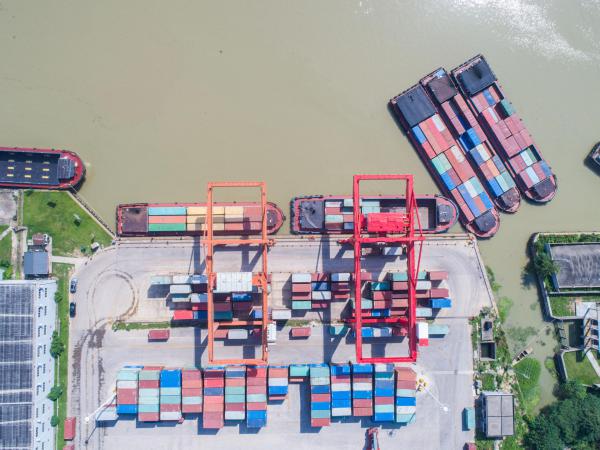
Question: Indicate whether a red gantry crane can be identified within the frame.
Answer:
Yes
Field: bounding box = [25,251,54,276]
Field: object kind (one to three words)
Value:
house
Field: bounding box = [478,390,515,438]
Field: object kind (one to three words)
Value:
building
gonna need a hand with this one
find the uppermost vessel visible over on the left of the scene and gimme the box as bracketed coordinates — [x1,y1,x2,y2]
[0,146,87,189]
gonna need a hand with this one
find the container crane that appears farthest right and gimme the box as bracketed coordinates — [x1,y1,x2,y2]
[336,175,428,362]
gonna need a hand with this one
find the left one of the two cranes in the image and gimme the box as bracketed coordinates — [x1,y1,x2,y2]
[200,182,282,363]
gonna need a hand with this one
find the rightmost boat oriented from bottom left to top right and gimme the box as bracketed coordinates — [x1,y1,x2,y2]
[513,347,534,366]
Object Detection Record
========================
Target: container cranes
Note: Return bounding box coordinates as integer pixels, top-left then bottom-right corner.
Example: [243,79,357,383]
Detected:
[200,182,282,363]
[336,175,428,362]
